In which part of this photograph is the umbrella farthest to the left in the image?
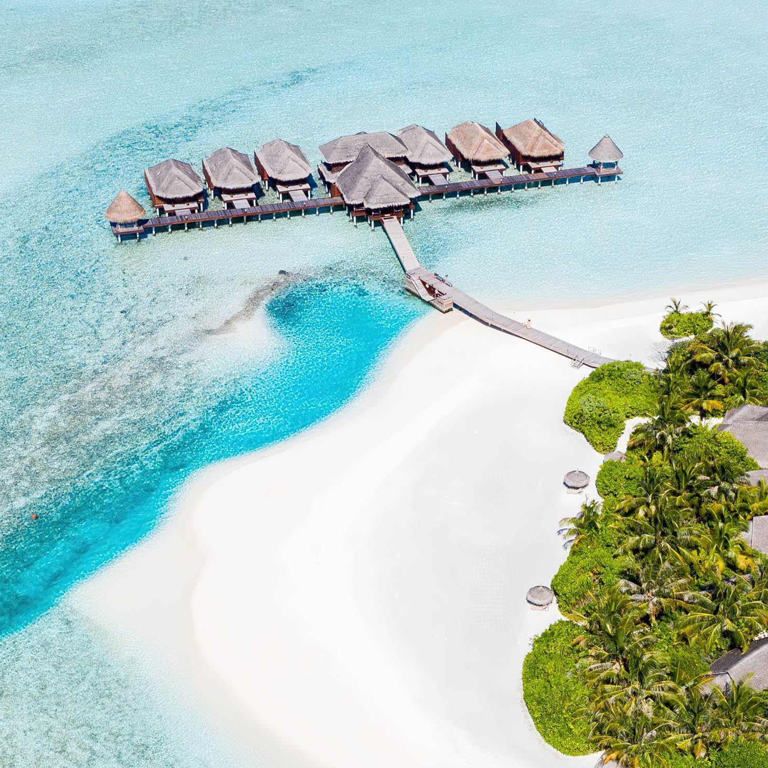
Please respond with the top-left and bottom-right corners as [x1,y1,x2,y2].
[524,586,555,610]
